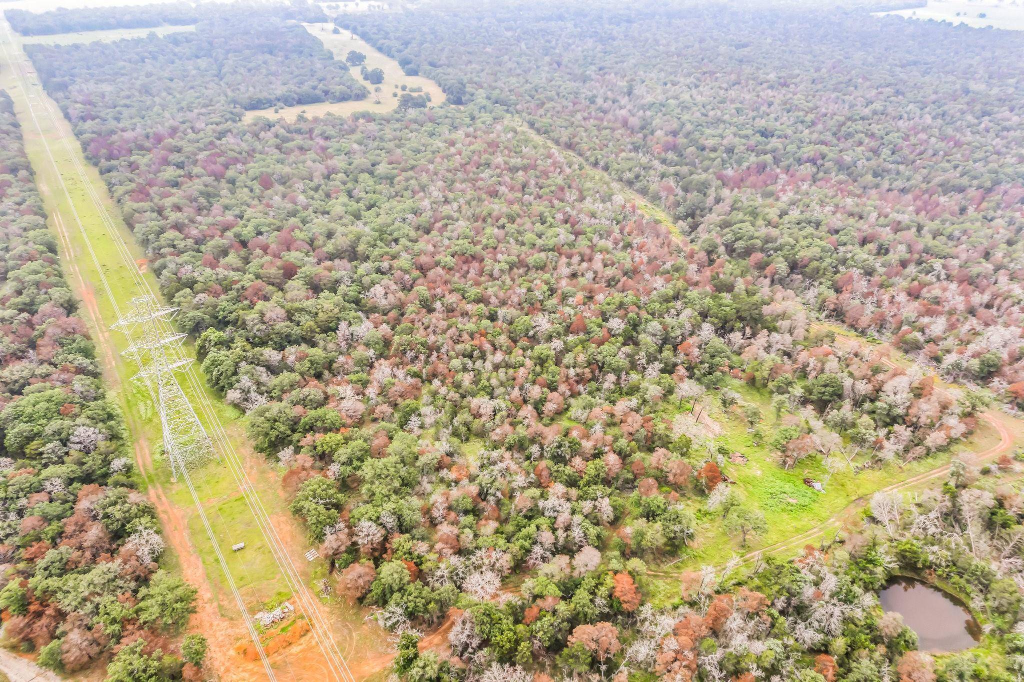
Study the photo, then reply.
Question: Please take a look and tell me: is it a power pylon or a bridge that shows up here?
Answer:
power pylon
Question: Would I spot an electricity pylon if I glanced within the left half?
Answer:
Yes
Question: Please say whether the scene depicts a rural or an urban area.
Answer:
rural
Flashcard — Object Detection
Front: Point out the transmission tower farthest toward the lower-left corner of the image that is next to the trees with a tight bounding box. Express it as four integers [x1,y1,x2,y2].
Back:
[111,303,225,488]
